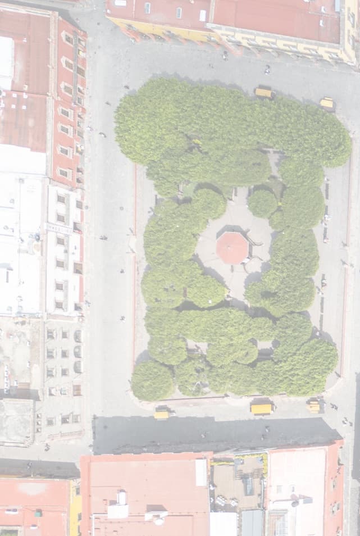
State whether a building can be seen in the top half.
Yes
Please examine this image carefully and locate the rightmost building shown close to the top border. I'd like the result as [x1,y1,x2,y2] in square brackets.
[207,0,360,71]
